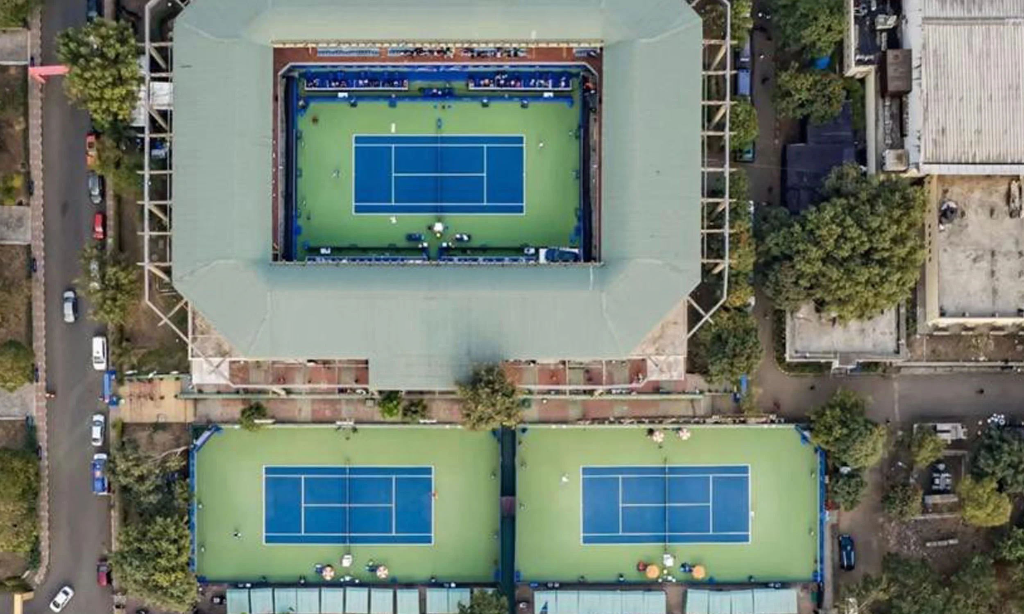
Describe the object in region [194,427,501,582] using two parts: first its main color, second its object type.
green tennis court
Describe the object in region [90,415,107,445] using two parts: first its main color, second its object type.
white car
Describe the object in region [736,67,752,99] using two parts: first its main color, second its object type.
blue vehicle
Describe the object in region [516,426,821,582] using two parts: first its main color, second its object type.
green tennis court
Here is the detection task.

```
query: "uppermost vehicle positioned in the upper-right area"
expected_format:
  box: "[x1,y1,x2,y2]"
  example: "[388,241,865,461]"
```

[737,37,752,68]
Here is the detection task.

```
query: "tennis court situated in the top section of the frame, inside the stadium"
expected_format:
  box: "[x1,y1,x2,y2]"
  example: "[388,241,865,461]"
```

[287,71,590,263]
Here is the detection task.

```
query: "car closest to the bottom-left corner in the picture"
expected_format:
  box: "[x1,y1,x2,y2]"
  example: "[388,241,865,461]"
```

[49,584,77,614]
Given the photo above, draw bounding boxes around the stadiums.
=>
[137,0,738,395]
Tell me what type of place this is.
sports ground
